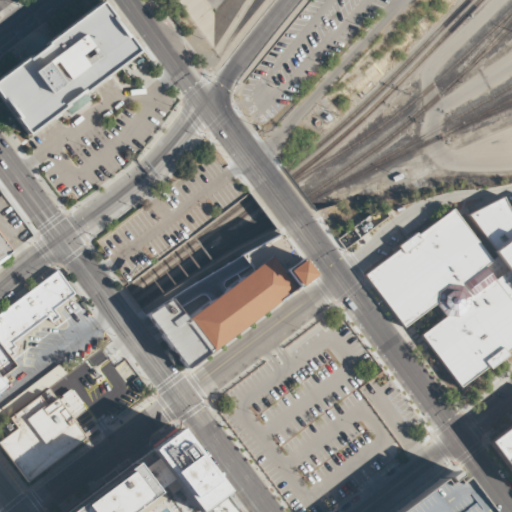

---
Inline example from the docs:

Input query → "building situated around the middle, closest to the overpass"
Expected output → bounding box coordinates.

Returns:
[152,236,322,366]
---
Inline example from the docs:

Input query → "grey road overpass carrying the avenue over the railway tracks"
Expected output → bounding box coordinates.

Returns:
[245,161,320,228]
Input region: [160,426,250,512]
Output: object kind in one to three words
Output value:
building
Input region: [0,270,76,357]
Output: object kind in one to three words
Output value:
building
